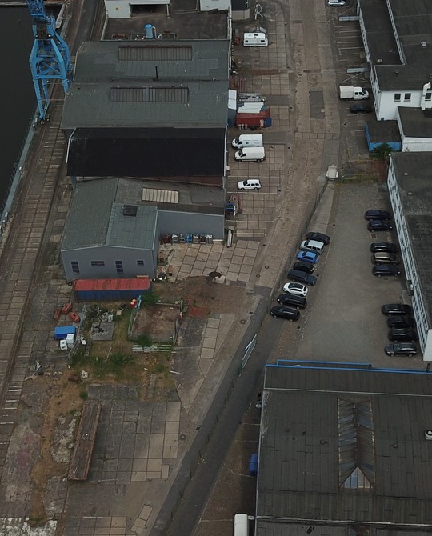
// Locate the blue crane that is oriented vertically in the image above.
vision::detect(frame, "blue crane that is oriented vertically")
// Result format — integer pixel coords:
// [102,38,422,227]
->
[27,0,74,120]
